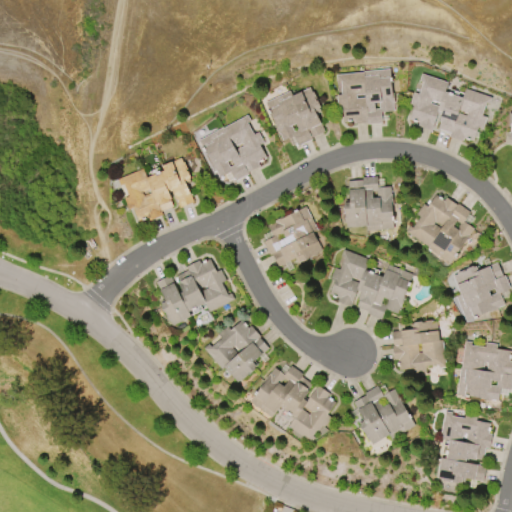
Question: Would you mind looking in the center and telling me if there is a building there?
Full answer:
Yes, the scene does show a building in the center.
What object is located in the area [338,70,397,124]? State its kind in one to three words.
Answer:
house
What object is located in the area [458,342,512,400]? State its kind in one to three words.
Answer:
house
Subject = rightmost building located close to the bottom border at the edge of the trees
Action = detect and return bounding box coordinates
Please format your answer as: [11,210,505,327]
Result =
[438,414,494,490]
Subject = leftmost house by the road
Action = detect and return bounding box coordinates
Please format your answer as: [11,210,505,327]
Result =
[120,156,196,225]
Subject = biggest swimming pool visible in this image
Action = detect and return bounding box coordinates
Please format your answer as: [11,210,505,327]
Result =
[416,284,432,301]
